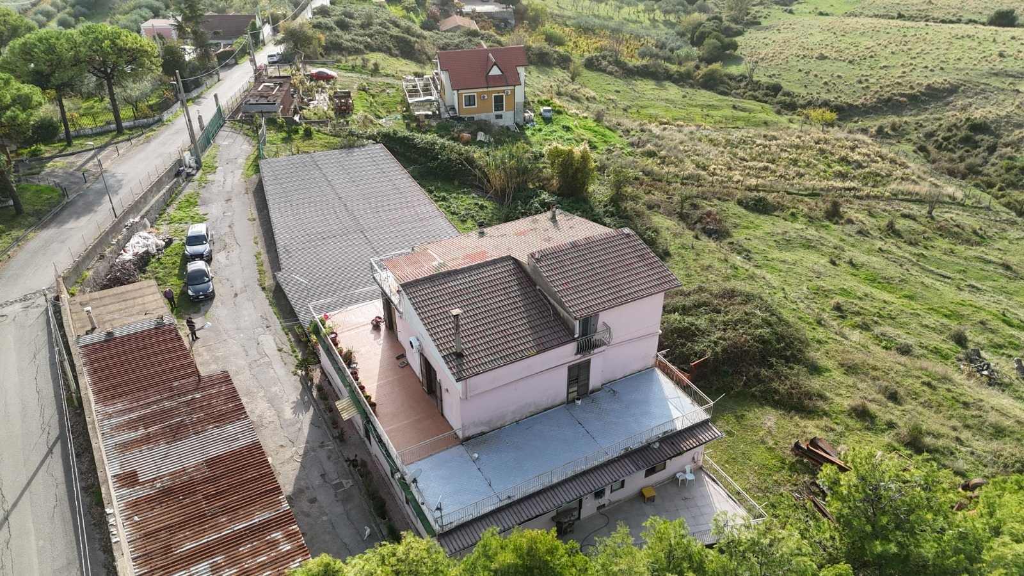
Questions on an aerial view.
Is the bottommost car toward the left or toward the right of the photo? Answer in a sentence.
The bottommost car sits on the left side.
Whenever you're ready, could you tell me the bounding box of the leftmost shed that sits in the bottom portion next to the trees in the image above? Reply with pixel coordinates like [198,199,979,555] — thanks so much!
[70,279,315,576]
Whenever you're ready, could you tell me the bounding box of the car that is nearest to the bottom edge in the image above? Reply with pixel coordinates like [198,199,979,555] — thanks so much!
[183,257,218,301]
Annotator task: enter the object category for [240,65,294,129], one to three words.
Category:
building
